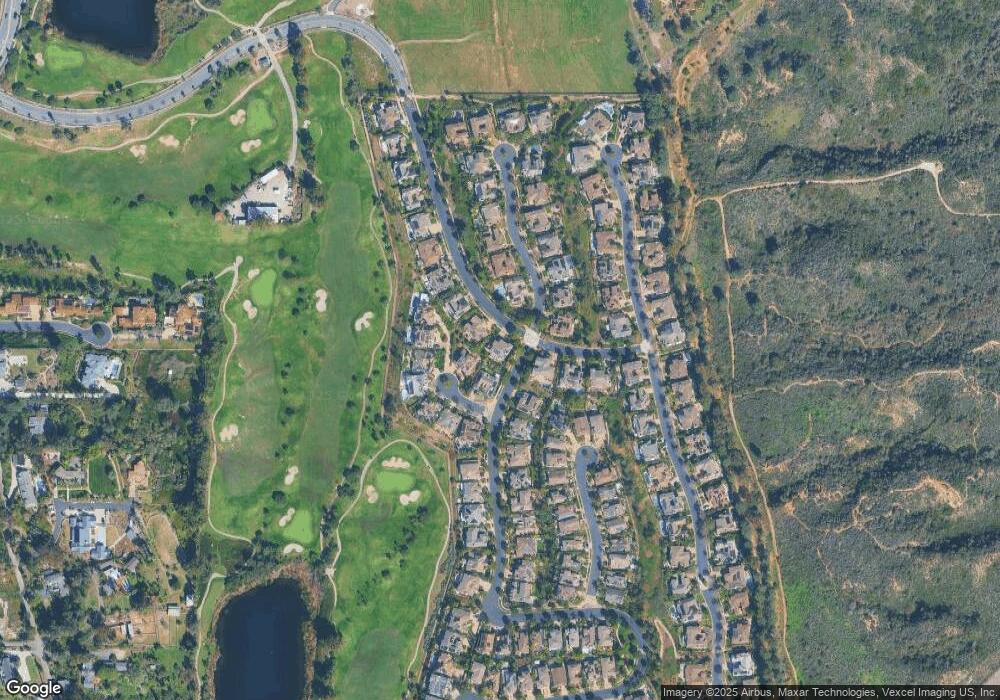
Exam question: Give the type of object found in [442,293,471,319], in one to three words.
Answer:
house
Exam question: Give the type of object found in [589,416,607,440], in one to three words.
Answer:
house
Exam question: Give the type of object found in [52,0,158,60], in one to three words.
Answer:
pond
